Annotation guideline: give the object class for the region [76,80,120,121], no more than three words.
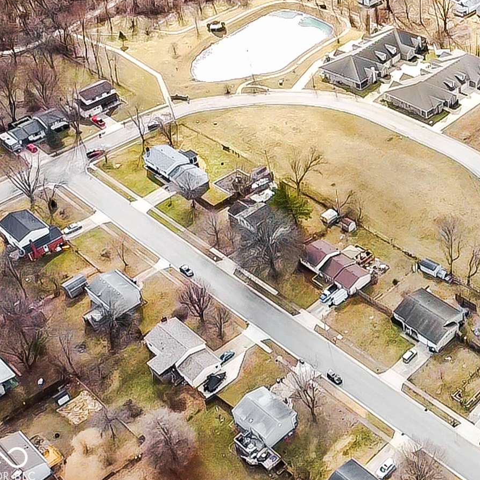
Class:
house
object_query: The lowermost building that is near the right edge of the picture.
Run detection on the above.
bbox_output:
[392,290,467,351]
